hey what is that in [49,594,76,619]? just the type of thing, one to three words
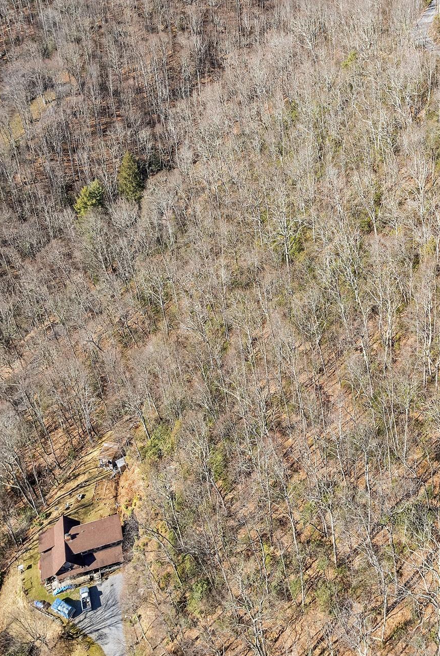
car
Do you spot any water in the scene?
No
